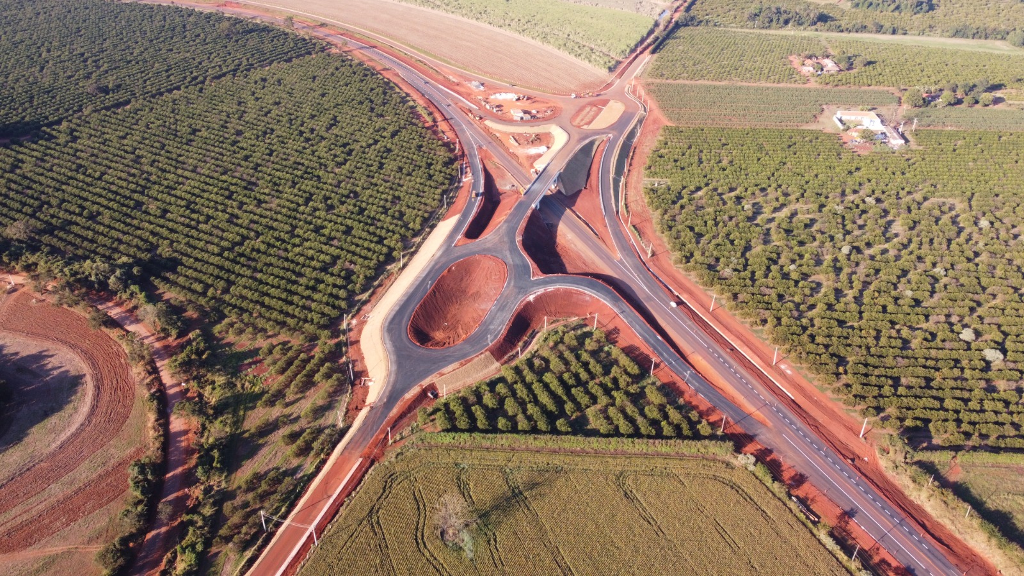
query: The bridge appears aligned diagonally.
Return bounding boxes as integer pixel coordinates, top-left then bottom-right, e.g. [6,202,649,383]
[523,157,560,207]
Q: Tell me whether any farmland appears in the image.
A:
Yes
